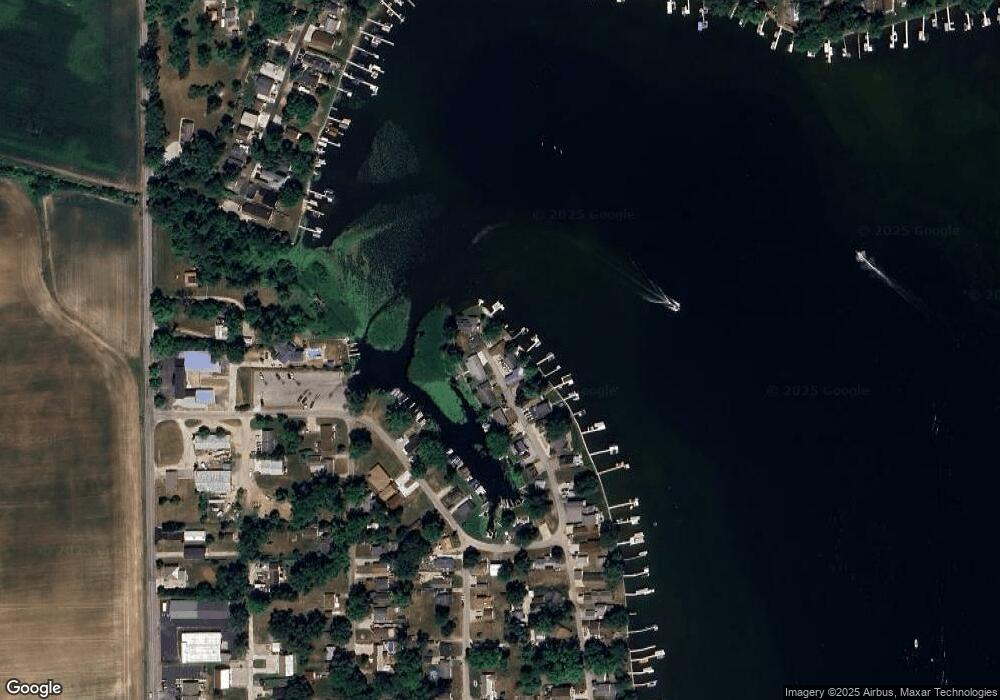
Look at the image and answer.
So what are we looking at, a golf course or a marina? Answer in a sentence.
The area seen from above is a marina.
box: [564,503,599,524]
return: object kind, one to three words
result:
house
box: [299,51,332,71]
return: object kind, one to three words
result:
house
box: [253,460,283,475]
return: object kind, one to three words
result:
building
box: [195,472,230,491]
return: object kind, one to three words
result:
building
